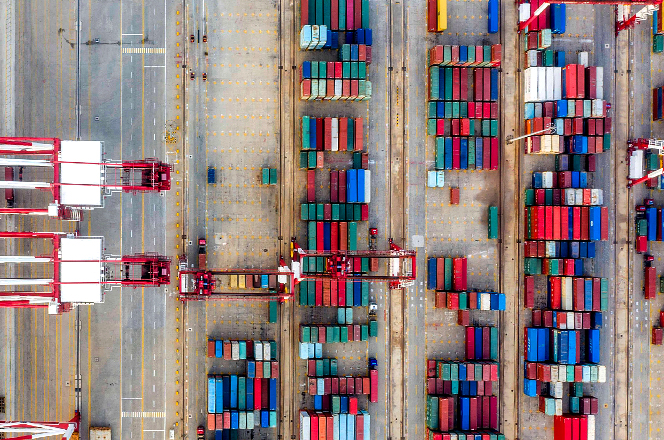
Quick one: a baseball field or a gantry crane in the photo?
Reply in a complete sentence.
Looking from above, you can make out a gantry crane.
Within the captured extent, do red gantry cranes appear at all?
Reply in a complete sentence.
Yes, there's a red gantry crane here.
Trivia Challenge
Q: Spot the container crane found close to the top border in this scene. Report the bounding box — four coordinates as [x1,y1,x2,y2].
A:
[519,0,664,39]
